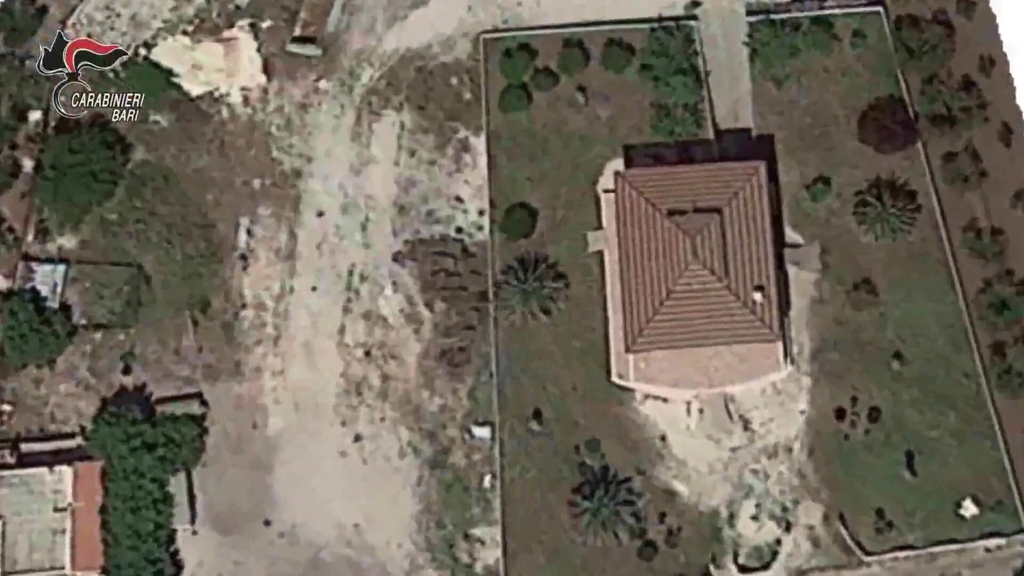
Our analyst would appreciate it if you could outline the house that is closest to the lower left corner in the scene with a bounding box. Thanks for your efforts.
[0,461,104,576]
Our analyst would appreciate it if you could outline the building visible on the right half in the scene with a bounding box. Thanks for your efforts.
[587,160,817,398]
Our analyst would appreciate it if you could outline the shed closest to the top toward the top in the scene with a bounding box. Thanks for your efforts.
[293,0,331,39]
